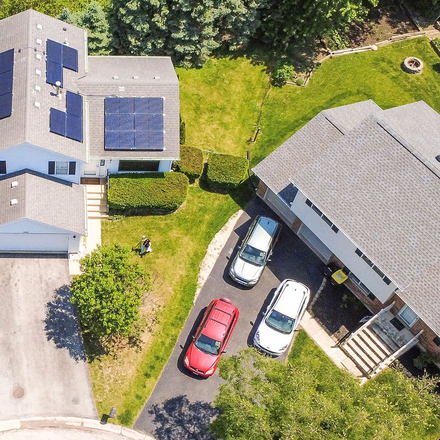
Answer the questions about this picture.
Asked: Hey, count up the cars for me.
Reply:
three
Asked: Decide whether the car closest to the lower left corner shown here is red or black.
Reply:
red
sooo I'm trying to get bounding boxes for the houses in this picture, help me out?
[0,9,180,254]
[249,99,440,379]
